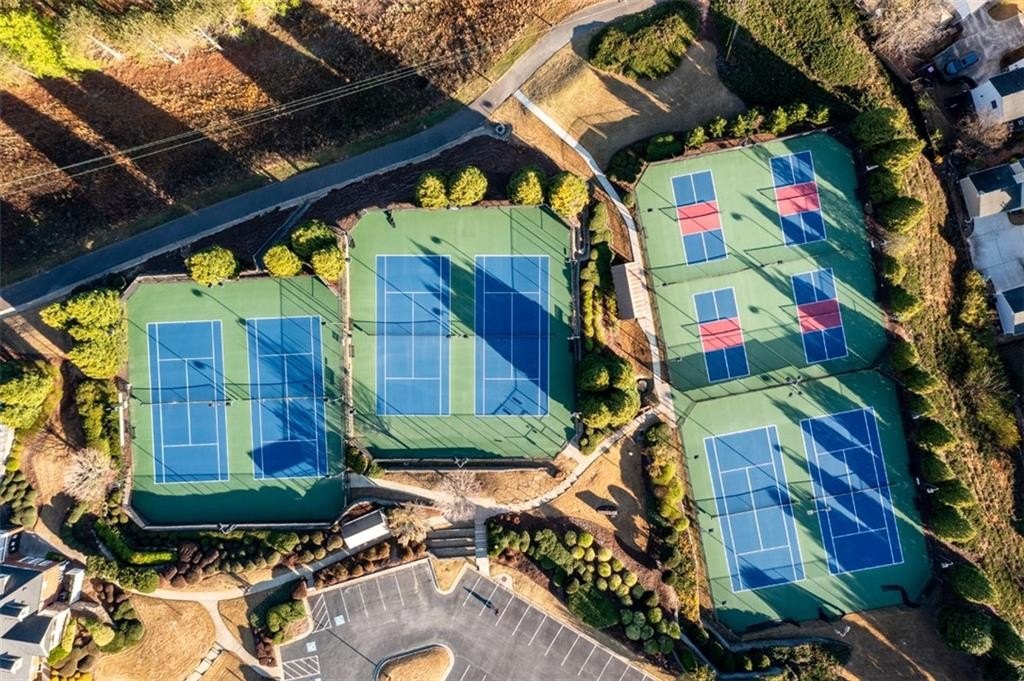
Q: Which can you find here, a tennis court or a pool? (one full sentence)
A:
Looking from above, you can make out a tennis court.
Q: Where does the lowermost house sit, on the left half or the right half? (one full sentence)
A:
You can find the lowermost house on the left side of the picture.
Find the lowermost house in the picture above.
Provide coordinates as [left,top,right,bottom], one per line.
[0,554,68,681]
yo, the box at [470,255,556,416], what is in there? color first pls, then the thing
blue tennis court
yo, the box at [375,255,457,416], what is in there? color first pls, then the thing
blue tennis court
